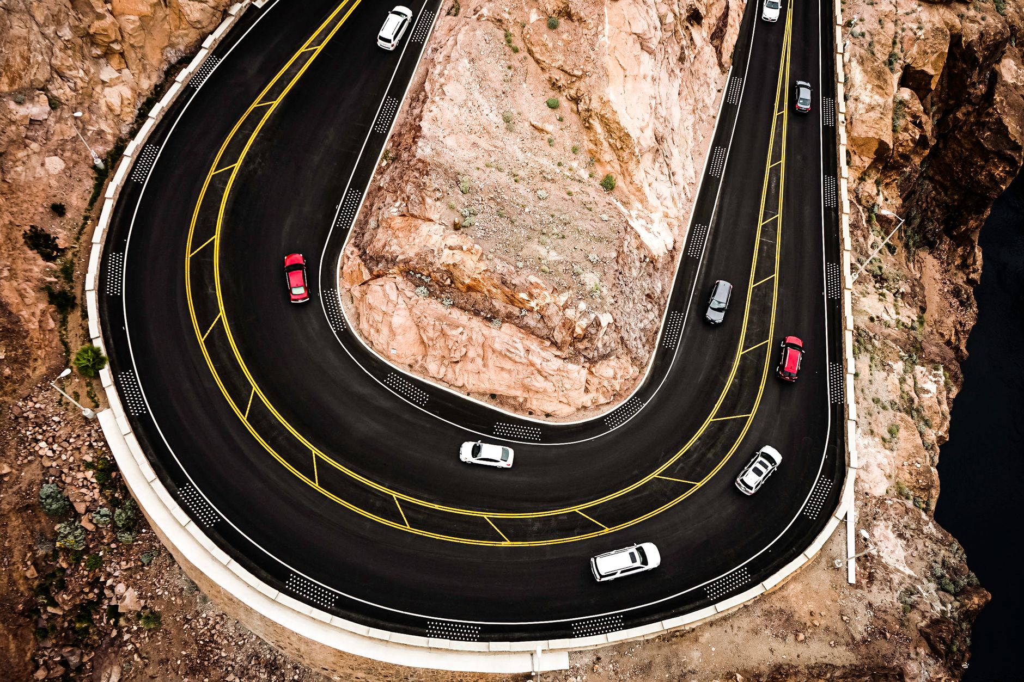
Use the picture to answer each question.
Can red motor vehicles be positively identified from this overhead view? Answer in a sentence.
Yes, the photo shows a red motor vehicle.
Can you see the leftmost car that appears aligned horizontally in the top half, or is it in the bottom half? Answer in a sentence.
The leftmost car that appears aligned horizontally sits in the bottom half of the picture.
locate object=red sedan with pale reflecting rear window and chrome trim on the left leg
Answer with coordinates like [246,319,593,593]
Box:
[284,255,311,305]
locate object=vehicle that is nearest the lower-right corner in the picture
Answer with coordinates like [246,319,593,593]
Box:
[736,447,781,496]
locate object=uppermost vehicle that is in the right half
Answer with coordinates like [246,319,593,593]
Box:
[762,0,782,22]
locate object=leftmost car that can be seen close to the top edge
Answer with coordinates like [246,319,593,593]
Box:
[376,7,412,51]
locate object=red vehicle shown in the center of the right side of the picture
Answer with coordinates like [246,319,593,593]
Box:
[777,336,806,382]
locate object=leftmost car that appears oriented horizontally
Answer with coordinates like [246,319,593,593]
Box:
[459,440,515,469]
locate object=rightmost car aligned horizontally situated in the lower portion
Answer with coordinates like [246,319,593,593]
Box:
[591,544,660,581]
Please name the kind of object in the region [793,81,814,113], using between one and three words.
car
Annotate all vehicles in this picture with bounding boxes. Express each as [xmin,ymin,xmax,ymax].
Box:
[777,336,806,382]
[762,0,782,22]
[705,278,733,325]
[591,544,660,581]
[376,7,412,51]
[736,447,781,496]
[793,81,814,113]
[284,255,311,305]
[459,440,515,469]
